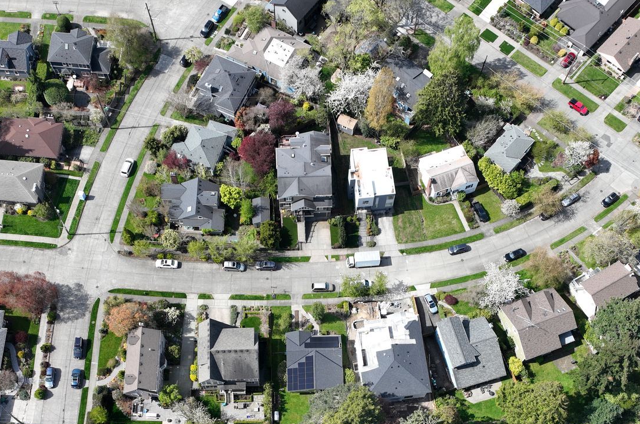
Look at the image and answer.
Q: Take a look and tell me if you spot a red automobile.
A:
Yes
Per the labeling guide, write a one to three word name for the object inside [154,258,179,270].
vehicle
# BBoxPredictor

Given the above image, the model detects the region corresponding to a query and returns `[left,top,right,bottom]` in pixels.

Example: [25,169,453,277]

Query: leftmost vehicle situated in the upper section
[120,156,135,180]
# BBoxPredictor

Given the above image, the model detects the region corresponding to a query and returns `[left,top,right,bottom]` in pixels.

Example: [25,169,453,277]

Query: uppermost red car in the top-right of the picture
[560,48,576,69]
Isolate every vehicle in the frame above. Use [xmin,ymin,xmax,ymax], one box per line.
[503,247,528,263]
[344,248,386,267]
[45,365,56,390]
[178,54,192,70]
[254,260,278,272]
[71,336,85,360]
[120,156,135,180]
[472,197,492,224]
[200,18,217,39]
[69,366,82,391]
[564,95,591,117]
[445,243,471,257]
[559,192,582,208]
[604,191,622,208]
[220,260,246,272]
[422,291,439,315]
[560,48,576,69]
[211,0,231,24]
[310,280,336,293]
[154,258,179,270]
[595,194,609,210]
